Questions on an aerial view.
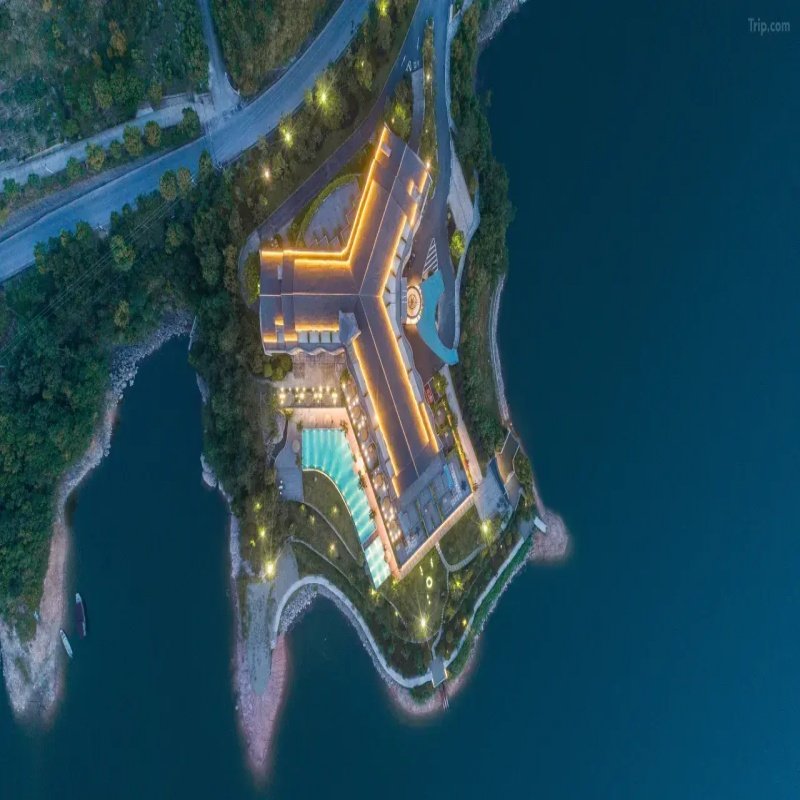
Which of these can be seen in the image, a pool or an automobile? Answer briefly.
pool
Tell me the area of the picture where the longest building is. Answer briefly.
center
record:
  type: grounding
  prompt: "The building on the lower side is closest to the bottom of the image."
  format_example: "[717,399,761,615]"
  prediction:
[431,657,447,688]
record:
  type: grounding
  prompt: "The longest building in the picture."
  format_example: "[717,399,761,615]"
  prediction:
[258,127,475,571]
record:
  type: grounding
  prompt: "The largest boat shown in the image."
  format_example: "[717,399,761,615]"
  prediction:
[74,592,87,641]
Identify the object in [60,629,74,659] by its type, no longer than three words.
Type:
boat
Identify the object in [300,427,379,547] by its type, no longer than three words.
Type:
swimming pool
